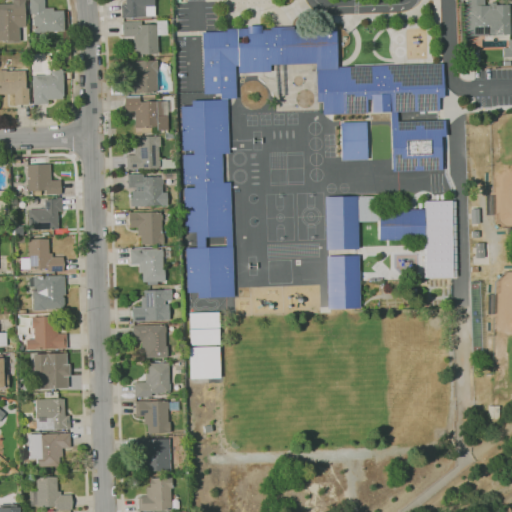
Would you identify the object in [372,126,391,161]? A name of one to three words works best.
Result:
sports field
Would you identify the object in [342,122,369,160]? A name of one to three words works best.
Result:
building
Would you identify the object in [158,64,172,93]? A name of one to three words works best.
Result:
swimming pool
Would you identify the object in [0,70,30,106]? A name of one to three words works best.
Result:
house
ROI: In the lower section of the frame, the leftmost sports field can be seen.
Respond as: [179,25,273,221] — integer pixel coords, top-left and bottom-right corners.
[223,310,448,451]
